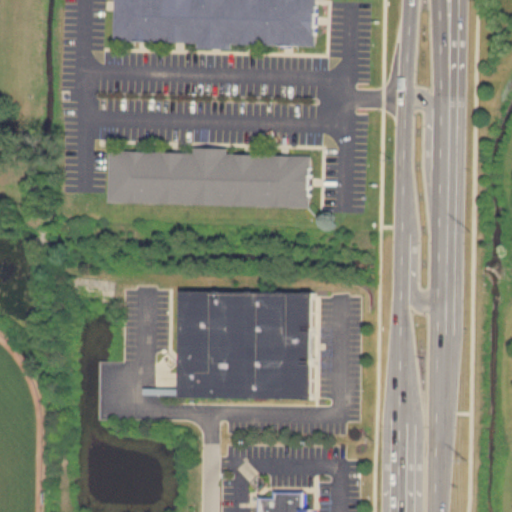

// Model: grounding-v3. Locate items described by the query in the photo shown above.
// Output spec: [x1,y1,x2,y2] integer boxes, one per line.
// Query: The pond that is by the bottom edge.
[81,310,176,512]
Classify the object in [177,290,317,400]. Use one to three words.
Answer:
building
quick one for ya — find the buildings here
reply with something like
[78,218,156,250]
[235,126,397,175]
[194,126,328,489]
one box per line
[105,148,314,208]
[177,290,317,400]
[114,0,322,50]
[258,490,308,512]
